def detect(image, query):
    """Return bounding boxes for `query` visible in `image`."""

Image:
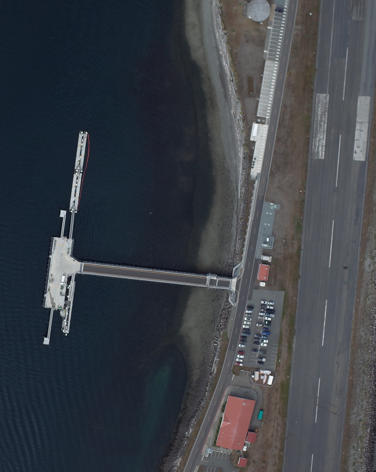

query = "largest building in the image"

[216,395,255,449]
